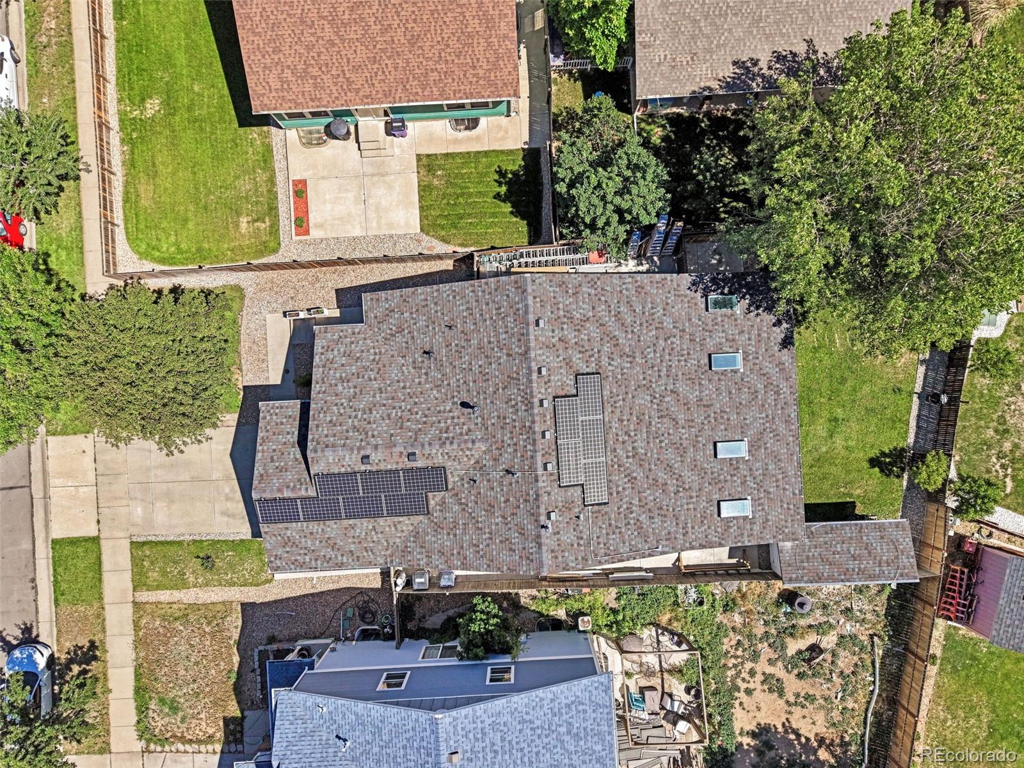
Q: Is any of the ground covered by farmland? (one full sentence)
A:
No, no farmland is visible.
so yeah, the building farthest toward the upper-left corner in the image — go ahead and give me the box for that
[235,0,518,127]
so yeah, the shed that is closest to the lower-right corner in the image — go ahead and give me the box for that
[966,548,1024,654]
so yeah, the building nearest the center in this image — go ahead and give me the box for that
[253,270,808,575]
